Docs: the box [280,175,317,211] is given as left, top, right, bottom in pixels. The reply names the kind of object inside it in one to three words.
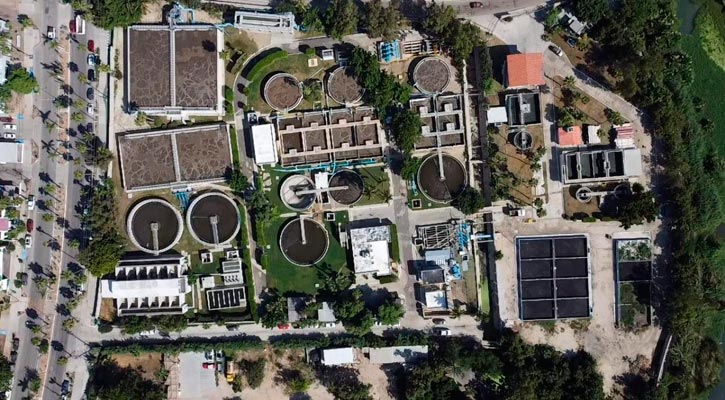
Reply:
storage tank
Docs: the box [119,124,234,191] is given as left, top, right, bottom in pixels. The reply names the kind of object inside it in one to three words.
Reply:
storage tank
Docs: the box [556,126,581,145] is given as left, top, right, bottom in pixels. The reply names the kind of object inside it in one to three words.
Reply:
building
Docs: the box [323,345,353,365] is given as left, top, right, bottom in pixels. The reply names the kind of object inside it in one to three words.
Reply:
shed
